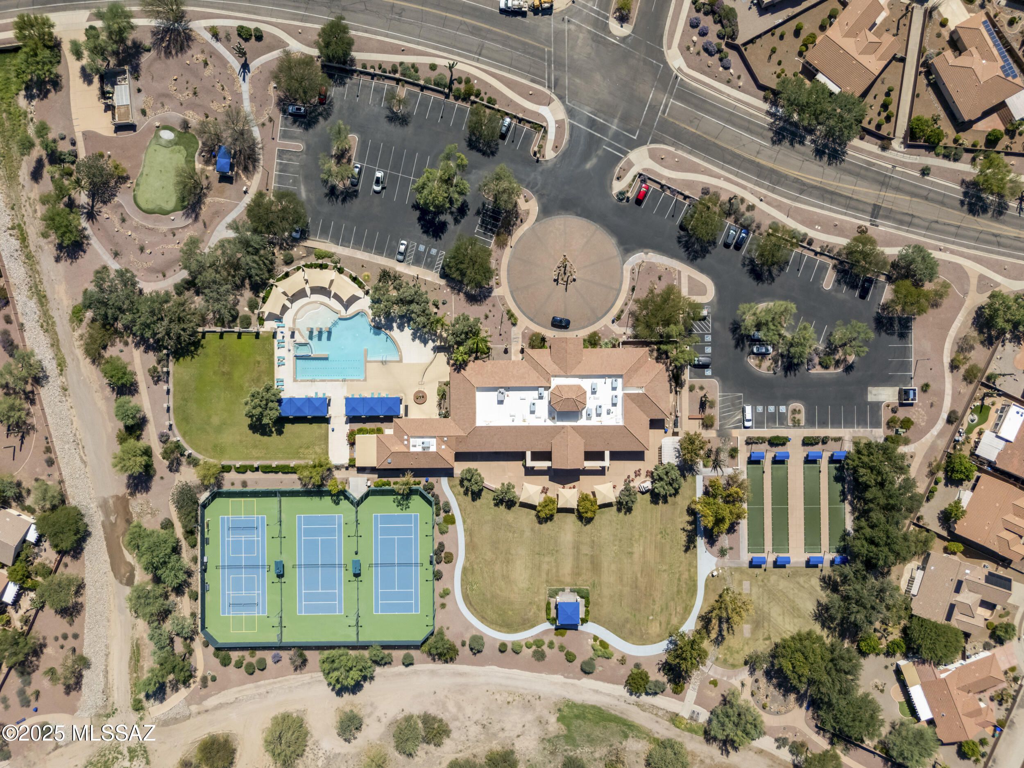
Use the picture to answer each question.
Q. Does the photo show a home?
Yes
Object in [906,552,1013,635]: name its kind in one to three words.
house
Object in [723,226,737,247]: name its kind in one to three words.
car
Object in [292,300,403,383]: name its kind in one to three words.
swimming pool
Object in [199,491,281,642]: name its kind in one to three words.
tennis court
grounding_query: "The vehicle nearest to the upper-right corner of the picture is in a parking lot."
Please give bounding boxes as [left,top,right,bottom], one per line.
[858,278,871,299]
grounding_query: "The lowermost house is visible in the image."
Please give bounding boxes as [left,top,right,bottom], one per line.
[894,649,1006,743]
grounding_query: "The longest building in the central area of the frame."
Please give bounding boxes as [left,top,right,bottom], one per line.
[356,337,670,469]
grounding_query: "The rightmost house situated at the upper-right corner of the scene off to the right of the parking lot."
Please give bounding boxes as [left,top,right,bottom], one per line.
[926,11,1024,129]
